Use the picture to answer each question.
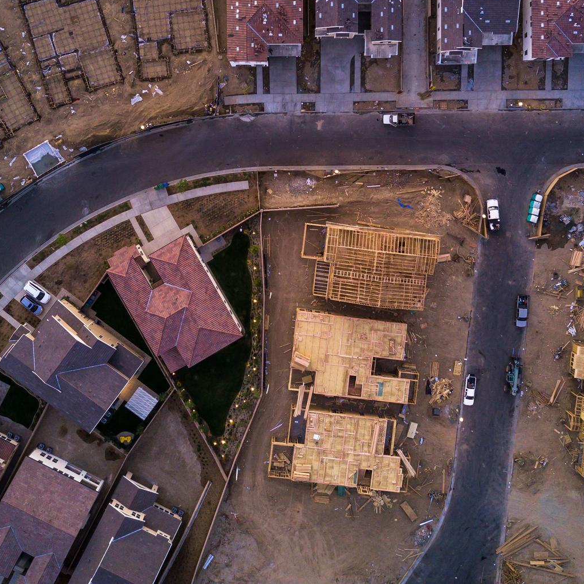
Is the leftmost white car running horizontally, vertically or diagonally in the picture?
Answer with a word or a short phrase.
diagonally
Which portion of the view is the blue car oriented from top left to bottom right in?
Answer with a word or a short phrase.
left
